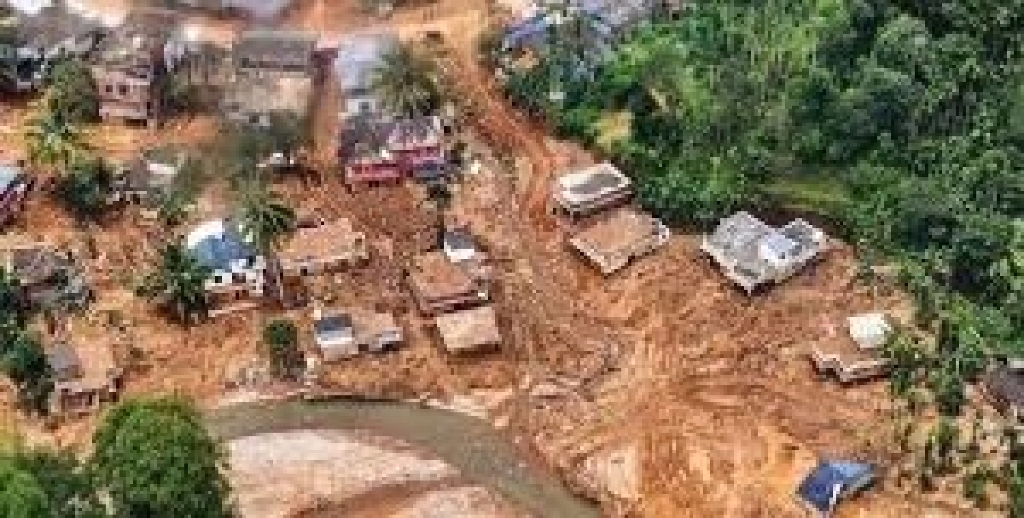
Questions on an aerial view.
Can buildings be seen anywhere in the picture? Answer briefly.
Yes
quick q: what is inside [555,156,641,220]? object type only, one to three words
house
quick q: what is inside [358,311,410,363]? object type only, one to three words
house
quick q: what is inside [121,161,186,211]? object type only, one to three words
shed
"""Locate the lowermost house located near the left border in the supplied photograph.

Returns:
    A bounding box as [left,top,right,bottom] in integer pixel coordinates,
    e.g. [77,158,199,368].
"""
[41,325,121,424]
